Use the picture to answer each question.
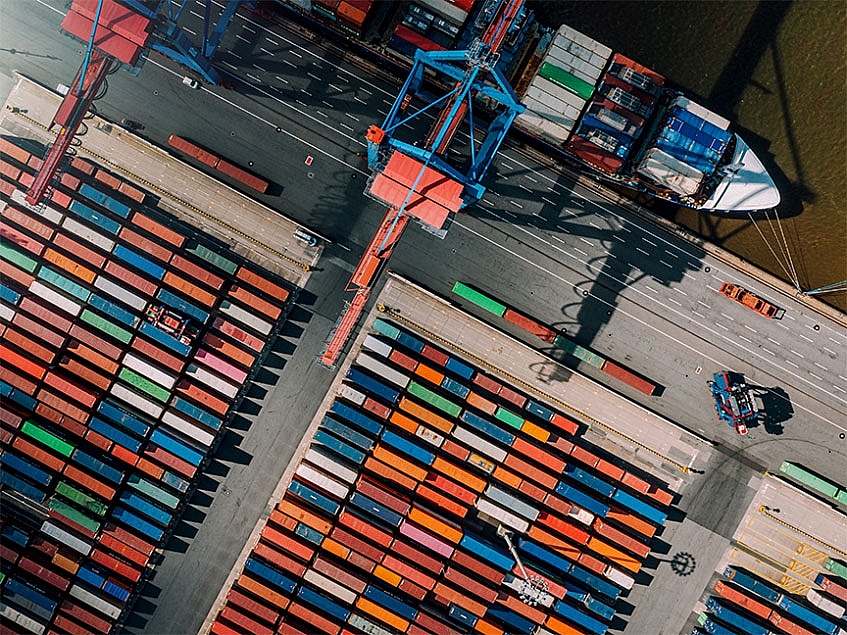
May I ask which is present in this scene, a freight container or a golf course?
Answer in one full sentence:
Looking from above, you can make out a freight container.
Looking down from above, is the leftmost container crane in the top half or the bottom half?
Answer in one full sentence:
Seen from above, the leftmost container crane lies in the top half of the view.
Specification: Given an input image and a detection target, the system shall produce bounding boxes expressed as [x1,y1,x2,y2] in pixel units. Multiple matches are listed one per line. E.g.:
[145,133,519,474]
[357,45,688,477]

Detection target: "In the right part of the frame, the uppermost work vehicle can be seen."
[706,373,768,435]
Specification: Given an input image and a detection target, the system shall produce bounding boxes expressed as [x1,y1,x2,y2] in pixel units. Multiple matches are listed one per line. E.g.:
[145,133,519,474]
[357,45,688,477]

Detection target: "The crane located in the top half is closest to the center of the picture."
[313,0,532,374]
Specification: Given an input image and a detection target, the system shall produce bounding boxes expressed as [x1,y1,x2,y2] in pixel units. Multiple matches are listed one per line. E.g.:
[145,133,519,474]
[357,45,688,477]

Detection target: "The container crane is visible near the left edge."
[10,0,300,211]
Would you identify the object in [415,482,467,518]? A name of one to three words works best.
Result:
shipping container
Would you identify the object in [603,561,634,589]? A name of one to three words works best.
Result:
shipping container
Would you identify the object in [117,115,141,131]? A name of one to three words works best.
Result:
vehicle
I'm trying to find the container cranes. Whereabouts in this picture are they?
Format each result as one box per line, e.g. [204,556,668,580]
[10,0,300,211]
[313,0,532,374]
